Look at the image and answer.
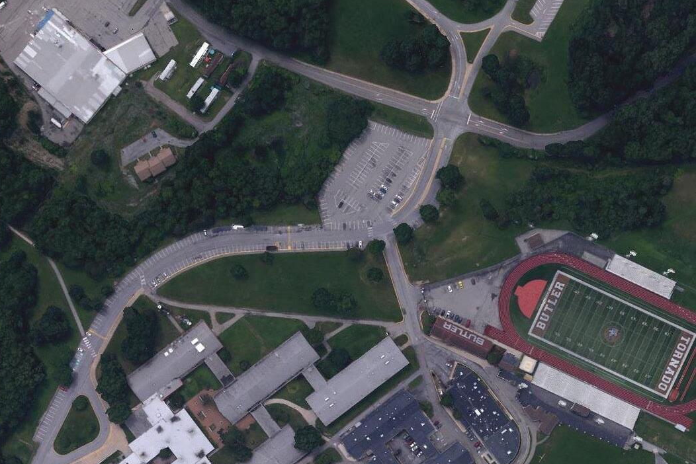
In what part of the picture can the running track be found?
bottom right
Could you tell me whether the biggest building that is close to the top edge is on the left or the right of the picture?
left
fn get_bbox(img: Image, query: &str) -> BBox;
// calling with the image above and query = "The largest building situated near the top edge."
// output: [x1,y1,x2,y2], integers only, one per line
[15,9,127,126]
